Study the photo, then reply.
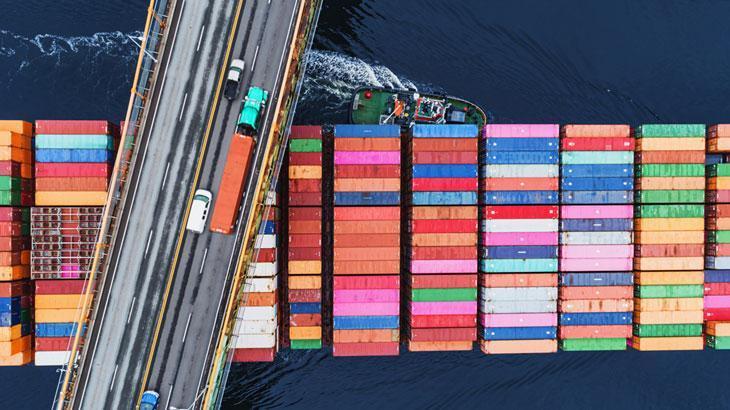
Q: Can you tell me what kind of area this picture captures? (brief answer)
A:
port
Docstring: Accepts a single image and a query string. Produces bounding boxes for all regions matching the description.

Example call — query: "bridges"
[51,0,324,410]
